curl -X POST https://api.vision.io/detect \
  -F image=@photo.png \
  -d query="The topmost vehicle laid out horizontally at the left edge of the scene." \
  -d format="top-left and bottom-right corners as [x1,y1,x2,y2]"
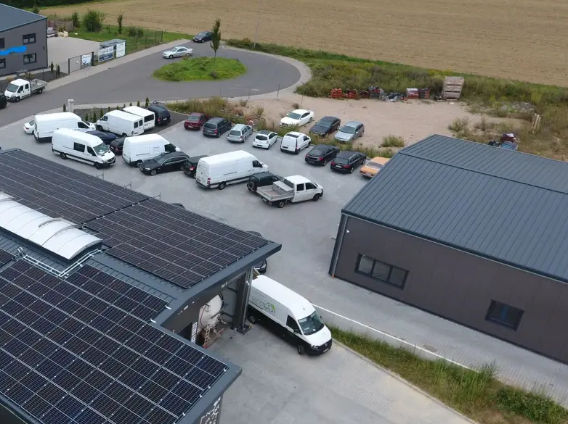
[3,79,48,101]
